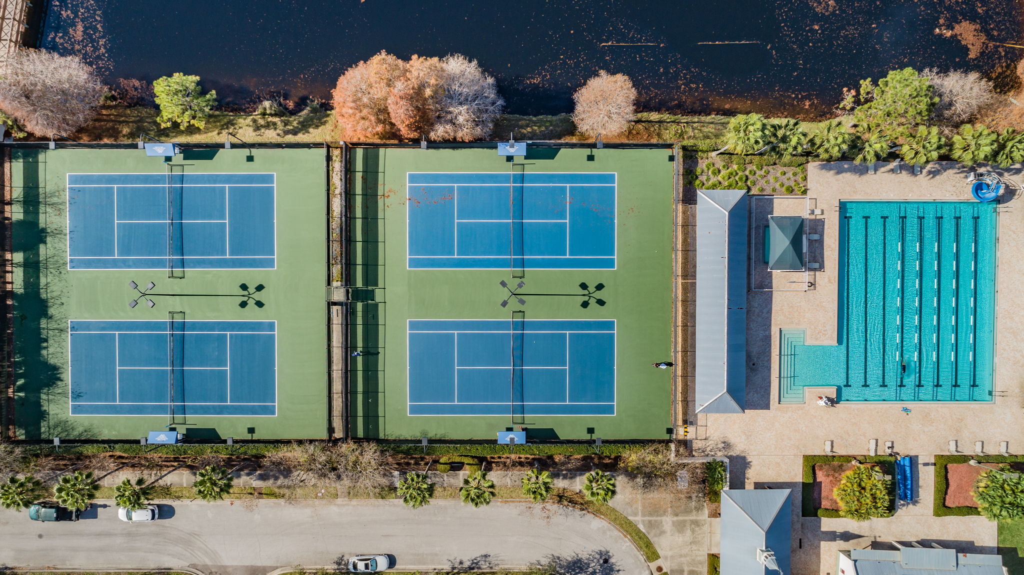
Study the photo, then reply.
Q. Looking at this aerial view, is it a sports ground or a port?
sports ground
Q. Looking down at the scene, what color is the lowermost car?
white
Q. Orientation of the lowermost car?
from side to side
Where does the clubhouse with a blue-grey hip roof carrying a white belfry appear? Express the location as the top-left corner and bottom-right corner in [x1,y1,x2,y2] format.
[720,489,792,575]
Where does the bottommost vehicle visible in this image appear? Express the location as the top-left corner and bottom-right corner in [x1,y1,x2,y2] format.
[348,553,390,573]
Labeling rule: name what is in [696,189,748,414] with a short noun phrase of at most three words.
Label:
building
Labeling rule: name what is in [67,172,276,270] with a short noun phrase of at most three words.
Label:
tennis court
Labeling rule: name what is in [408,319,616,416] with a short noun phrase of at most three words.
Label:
tennis court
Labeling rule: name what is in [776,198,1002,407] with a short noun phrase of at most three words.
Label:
swimming pool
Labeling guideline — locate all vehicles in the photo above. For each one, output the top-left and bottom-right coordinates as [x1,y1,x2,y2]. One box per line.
[348,553,390,573]
[30,502,83,523]
[121,503,160,522]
